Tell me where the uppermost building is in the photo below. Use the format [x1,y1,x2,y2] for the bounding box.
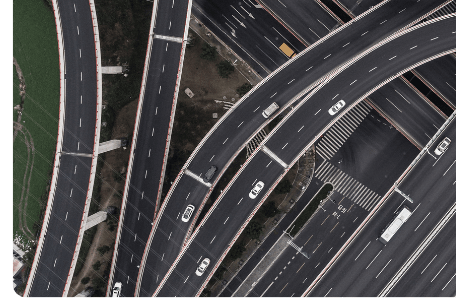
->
[0,255,31,285]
